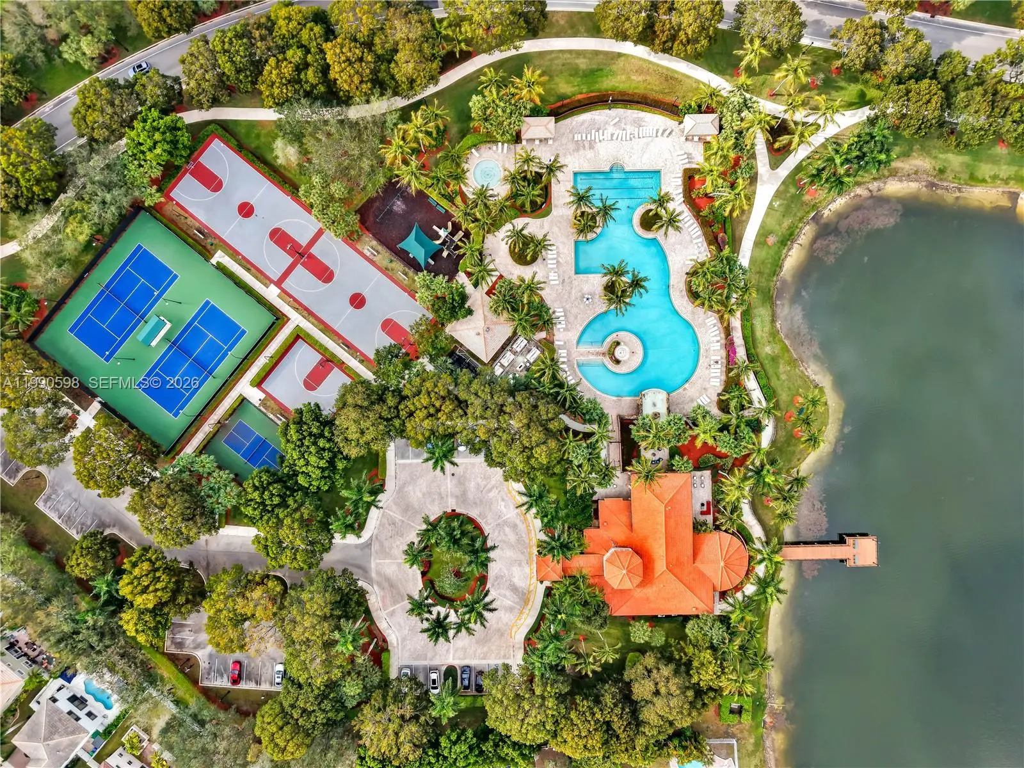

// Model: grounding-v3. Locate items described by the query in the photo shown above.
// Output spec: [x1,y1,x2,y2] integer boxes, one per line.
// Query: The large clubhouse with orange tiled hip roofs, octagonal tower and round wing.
[536,473,749,615]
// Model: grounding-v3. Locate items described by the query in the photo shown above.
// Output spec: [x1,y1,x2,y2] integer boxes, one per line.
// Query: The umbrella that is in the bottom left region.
[60,668,77,684]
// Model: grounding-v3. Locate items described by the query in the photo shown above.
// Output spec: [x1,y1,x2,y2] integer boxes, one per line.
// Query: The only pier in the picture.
[777,532,880,567]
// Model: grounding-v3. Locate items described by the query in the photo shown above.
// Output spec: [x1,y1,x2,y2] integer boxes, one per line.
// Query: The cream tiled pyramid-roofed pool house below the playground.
[446,290,513,364]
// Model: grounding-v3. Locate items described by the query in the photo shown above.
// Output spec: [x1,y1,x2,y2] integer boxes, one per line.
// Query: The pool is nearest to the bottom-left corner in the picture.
[82,677,114,711]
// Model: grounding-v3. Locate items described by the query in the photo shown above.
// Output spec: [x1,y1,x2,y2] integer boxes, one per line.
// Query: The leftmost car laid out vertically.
[229,662,241,686]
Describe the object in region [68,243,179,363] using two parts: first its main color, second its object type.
blue tennis court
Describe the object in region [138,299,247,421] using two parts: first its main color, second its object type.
blue tennis court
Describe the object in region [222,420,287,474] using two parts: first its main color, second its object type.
blue sports court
